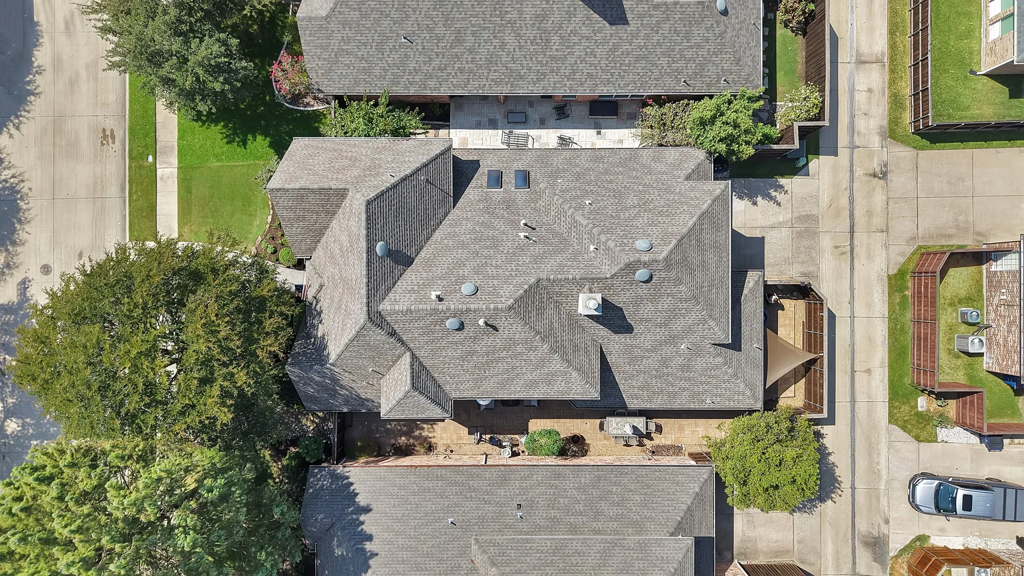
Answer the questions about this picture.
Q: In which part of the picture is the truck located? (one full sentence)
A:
The truck is located in the bottom right region of the scene.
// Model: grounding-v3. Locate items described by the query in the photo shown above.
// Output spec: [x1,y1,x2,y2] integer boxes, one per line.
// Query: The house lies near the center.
[266,135,766,421]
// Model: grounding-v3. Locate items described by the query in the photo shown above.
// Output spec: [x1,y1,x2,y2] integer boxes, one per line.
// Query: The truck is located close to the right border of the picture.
[906,473,1024,524]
